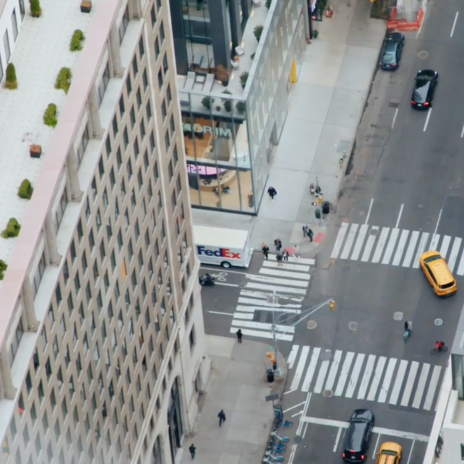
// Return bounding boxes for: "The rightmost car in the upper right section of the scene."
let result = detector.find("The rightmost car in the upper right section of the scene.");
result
[411,64,442,107]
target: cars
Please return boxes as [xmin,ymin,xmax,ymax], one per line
[342,401,379,461]
[375,435,407,464]
[380,24,413,68]
[411,64,442,107]
[421,248,456,295]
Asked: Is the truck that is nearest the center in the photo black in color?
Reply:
No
